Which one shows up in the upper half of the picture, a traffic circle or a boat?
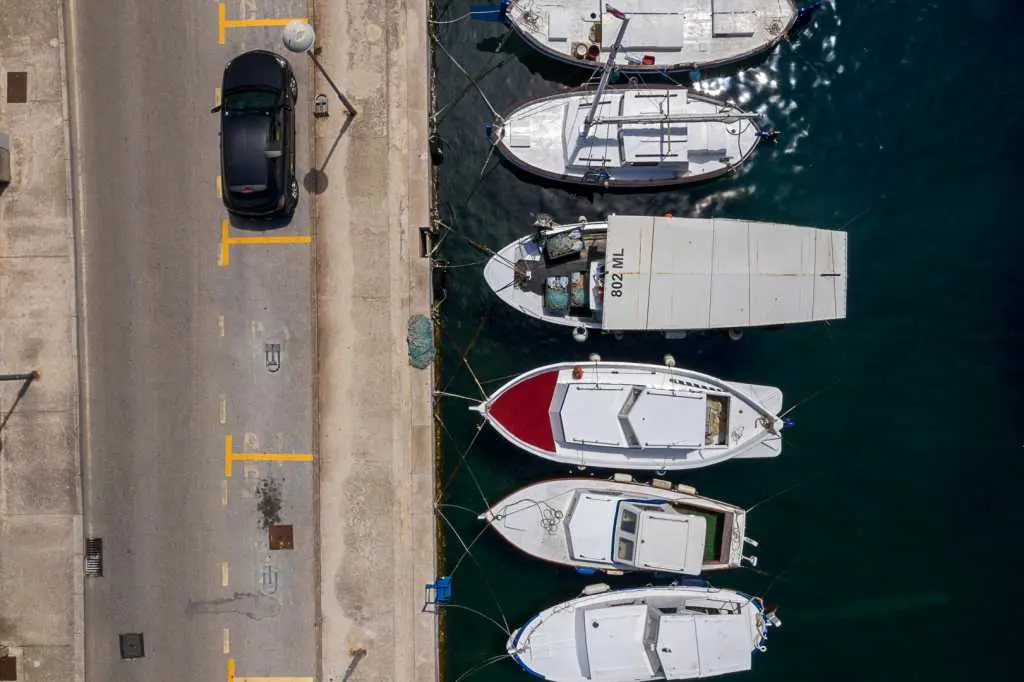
boat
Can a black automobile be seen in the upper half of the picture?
Yes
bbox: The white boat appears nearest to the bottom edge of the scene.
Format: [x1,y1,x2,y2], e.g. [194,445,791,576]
[505,583,781,682]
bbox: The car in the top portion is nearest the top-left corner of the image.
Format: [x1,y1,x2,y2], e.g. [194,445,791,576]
[209,48,300,219]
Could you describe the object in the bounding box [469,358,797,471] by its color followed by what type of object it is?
white boat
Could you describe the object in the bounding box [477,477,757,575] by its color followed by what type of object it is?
white boat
